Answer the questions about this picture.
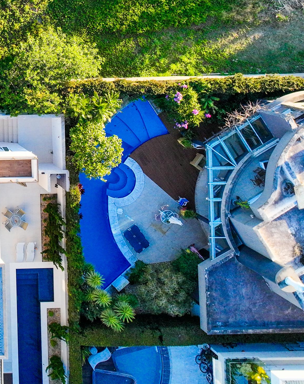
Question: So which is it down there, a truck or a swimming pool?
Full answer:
Visible in the photo is a swimming pool.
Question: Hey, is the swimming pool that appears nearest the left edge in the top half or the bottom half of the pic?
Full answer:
The bottom half of the photo is where the swimming pool that appears nearest the left edge is.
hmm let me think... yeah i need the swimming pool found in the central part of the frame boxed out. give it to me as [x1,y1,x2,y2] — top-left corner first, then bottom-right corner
[79,97,170,289]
